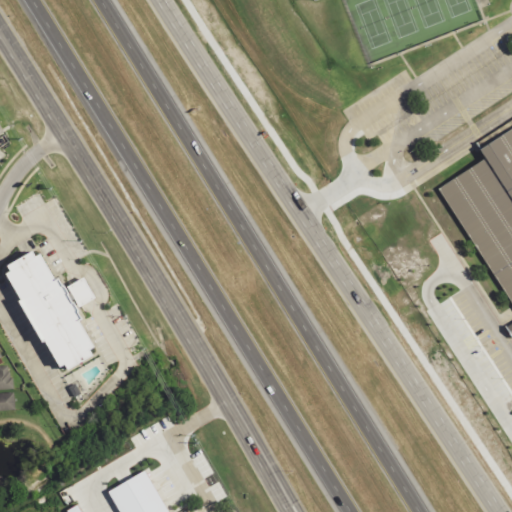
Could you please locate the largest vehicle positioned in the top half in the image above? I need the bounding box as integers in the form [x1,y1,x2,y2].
[292,192,306,210]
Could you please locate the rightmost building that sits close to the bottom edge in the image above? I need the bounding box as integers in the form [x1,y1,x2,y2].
[109,470,171,512]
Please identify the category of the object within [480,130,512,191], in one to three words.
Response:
building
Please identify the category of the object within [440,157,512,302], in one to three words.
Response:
building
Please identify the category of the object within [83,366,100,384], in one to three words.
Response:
swimming pool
